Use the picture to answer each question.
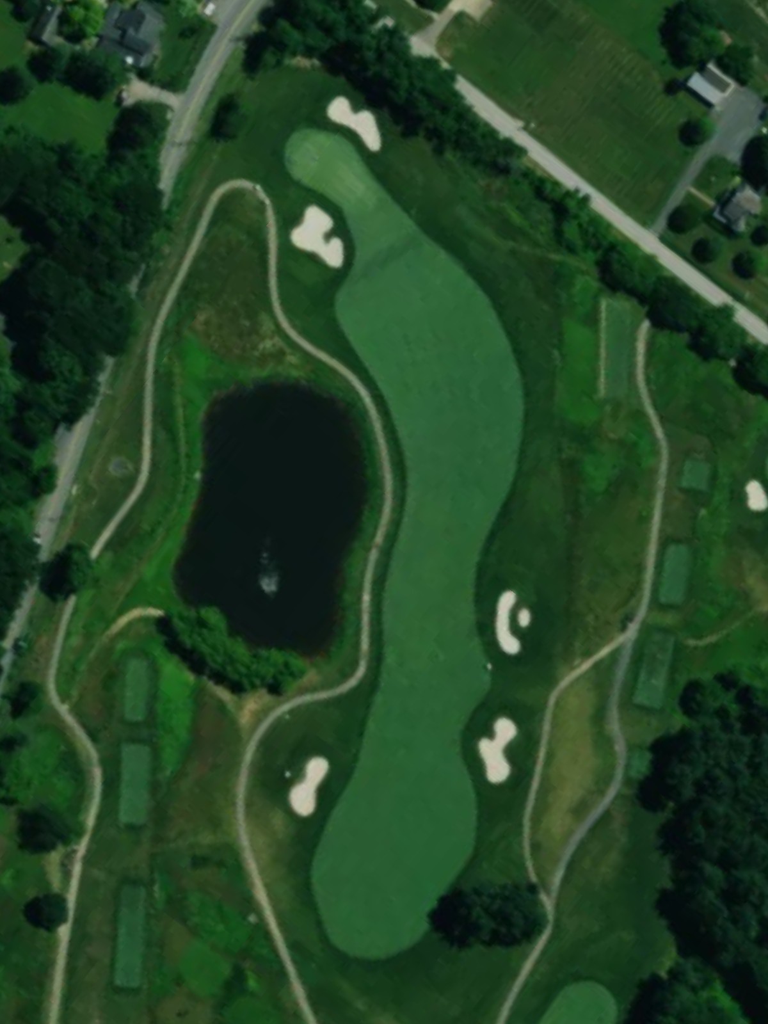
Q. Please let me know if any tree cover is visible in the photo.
Yes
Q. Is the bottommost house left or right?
right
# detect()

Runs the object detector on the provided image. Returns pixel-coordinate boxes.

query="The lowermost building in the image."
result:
[709,181,768,231]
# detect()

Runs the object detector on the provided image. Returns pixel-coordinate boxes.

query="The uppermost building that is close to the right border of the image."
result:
[689,60,735,105]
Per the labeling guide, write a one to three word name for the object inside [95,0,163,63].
house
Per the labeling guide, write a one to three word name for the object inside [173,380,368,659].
pond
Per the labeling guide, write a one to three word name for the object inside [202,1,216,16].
vehicle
